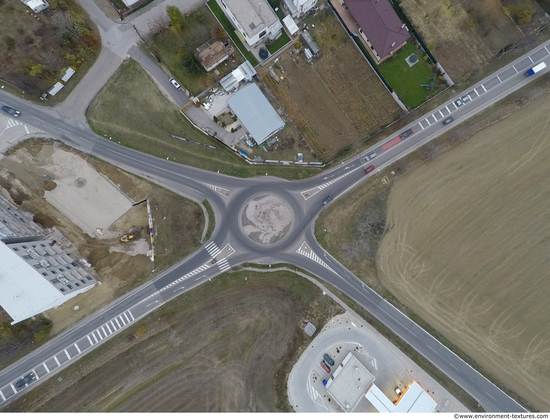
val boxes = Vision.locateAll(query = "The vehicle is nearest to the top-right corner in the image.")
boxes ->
[524,61,547,78]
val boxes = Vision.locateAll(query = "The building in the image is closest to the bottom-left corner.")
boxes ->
[0,242,97,325]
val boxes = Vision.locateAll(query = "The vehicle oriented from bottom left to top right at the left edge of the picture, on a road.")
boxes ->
[16,372,37,388]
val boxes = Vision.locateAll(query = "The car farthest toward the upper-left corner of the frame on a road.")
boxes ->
[2,104,22,117]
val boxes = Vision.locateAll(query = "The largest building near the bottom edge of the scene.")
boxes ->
[327,351,375,412]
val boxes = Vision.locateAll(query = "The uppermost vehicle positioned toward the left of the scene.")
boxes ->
[169,77,182,91]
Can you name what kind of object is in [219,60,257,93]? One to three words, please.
shed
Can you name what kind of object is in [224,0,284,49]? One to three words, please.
house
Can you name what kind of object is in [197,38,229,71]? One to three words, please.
house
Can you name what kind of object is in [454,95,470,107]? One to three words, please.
vehicle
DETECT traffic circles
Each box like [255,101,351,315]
[238,191,295,248]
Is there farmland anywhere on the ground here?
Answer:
Yes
